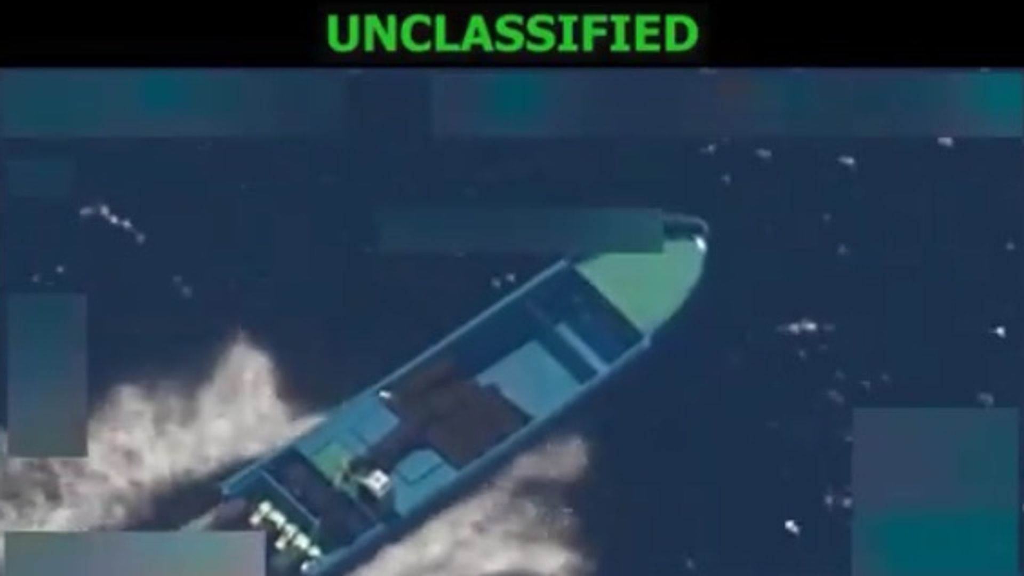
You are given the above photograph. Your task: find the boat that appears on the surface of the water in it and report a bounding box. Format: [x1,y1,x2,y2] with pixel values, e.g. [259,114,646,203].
[214,218,713,576]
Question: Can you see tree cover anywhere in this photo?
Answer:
No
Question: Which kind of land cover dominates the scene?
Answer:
water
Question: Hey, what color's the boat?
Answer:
blue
